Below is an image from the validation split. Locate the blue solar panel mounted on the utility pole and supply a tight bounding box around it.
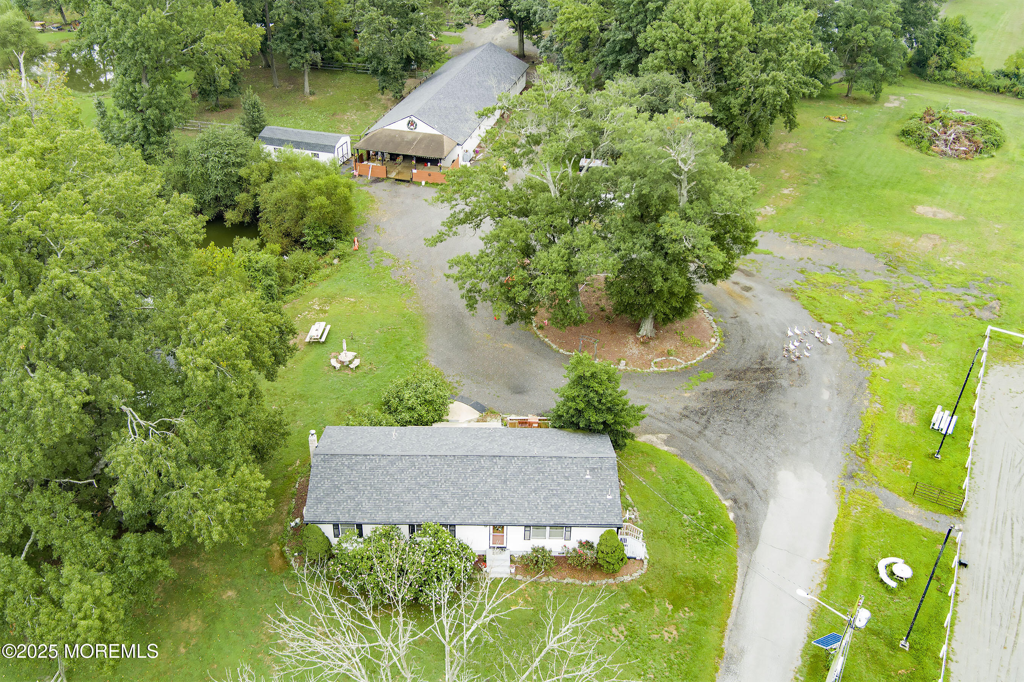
[811,631,842,666]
